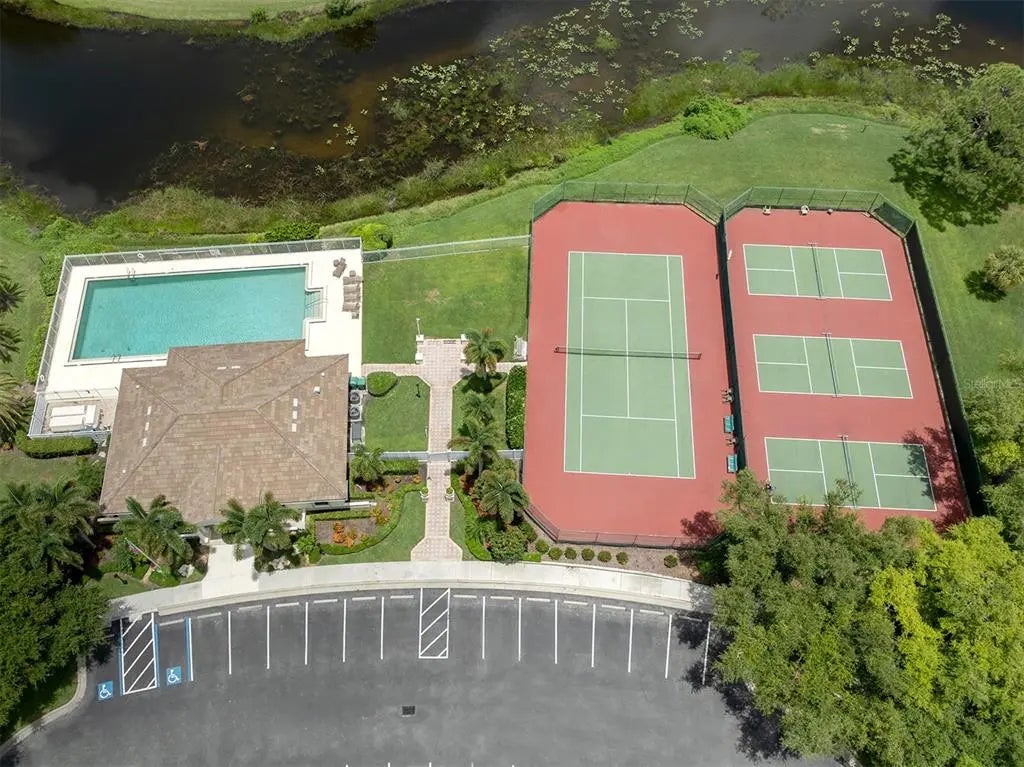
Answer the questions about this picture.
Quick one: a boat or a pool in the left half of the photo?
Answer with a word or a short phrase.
pool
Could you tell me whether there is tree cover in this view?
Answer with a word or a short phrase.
Yes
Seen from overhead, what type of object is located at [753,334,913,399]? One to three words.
sports court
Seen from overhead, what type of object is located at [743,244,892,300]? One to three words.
sports court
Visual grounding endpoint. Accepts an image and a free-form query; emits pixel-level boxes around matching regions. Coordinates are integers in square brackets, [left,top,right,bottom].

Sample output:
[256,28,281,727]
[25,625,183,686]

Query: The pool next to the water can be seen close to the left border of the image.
[47,249,362,440]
